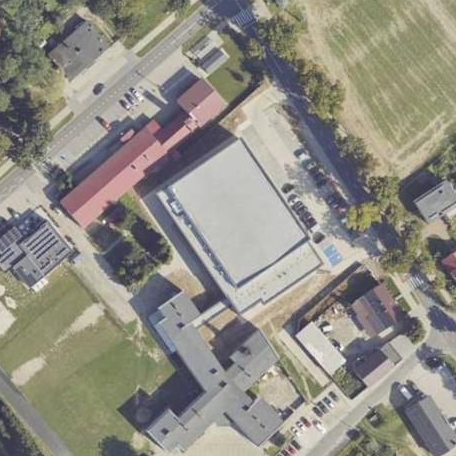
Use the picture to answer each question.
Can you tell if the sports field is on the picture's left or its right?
left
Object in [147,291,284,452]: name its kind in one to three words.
building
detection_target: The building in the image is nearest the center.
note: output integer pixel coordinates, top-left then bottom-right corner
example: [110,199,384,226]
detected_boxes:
[157,140,322,311]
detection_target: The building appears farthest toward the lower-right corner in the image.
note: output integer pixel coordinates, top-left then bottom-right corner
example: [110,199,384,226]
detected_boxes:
[405,395,456,456]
